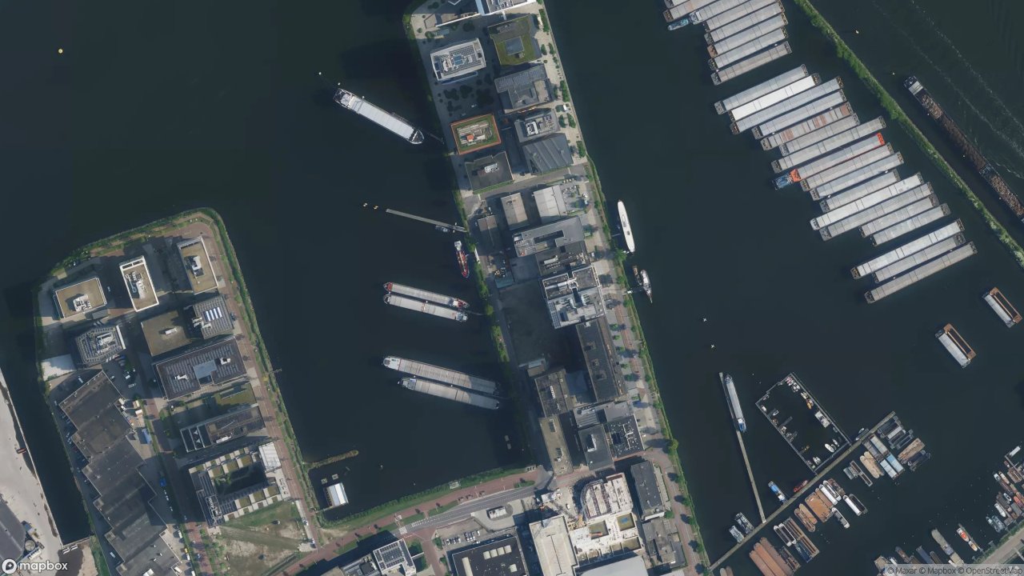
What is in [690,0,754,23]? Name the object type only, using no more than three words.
ship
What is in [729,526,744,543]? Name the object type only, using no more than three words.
boat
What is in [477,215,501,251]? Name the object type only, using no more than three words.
shed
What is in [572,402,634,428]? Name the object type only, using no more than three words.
building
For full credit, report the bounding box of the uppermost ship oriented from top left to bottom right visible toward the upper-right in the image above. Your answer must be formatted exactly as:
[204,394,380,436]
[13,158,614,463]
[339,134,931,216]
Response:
[906,77,991,172]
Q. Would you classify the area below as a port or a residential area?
port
